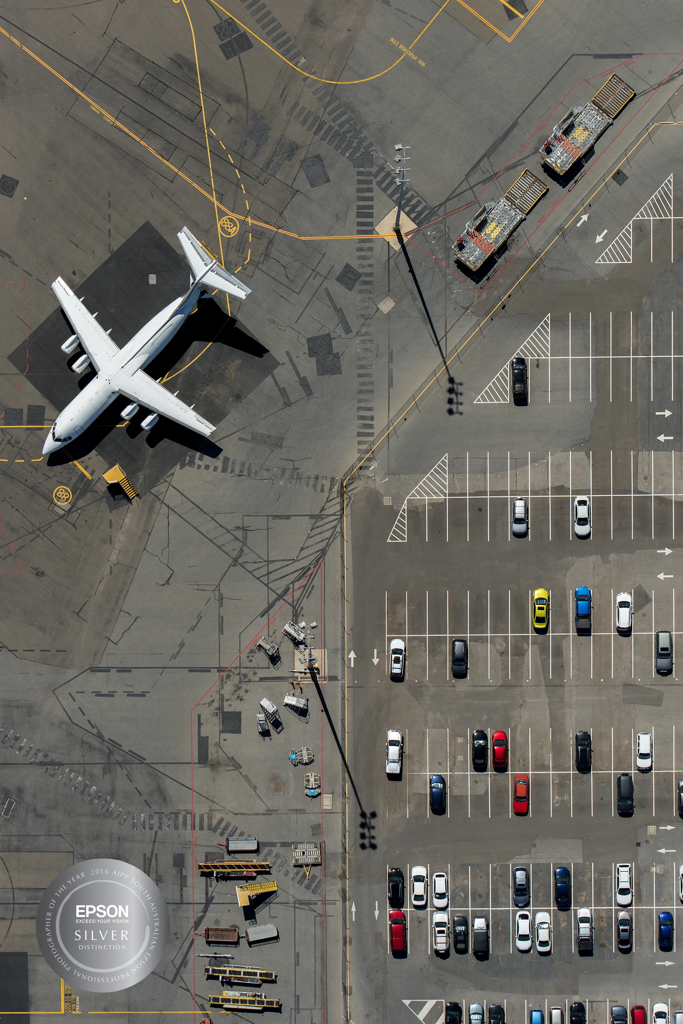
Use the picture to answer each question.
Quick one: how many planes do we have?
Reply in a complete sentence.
I count just 1 plane.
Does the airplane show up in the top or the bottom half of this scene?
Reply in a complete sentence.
The airplane sits in the top half of the picture.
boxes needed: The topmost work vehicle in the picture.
[541,76,639,176]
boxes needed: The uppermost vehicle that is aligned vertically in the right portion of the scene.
[510,358,529,399]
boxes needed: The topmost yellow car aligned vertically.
[531,588,550,629]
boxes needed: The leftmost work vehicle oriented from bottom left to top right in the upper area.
[453,173,551,273]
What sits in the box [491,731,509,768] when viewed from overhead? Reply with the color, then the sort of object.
red car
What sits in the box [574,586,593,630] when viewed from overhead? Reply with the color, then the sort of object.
blue vehicle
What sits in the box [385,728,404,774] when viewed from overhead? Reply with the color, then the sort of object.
white vehicle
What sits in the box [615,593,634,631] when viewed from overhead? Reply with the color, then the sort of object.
white car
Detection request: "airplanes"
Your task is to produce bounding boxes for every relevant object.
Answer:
[42,226,253,455]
